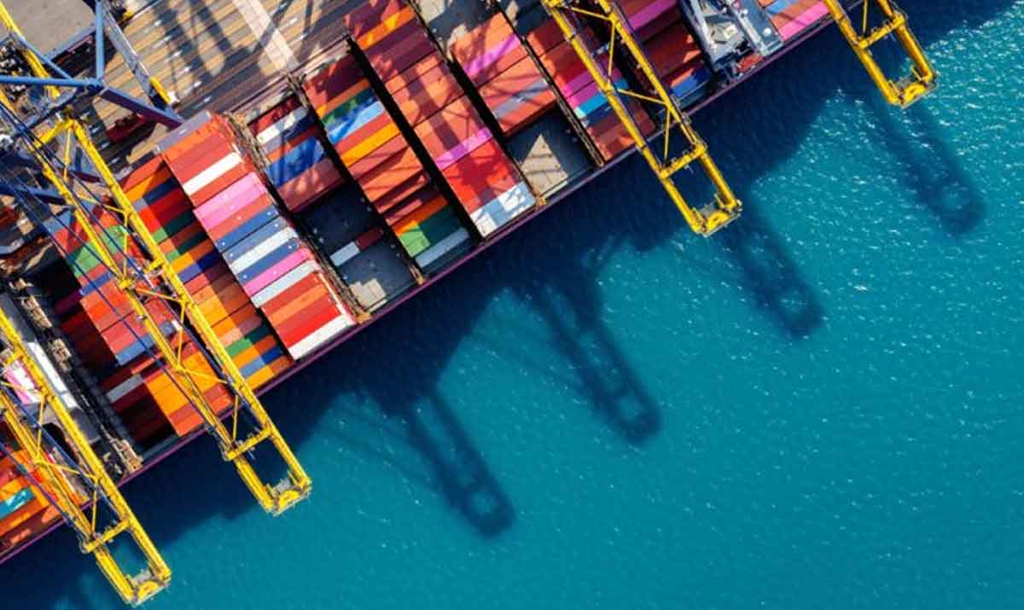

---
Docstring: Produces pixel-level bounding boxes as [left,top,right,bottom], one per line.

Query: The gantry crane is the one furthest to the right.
[805,0,935,114]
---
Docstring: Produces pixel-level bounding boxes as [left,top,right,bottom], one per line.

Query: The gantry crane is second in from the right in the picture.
[543,0,744,236]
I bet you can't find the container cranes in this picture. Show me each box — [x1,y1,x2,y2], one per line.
[0,111,179,608]
[805,0,935,114]
[543,0,744,236]
[0,0,312,519]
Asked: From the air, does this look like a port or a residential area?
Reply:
port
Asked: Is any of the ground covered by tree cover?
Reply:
No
